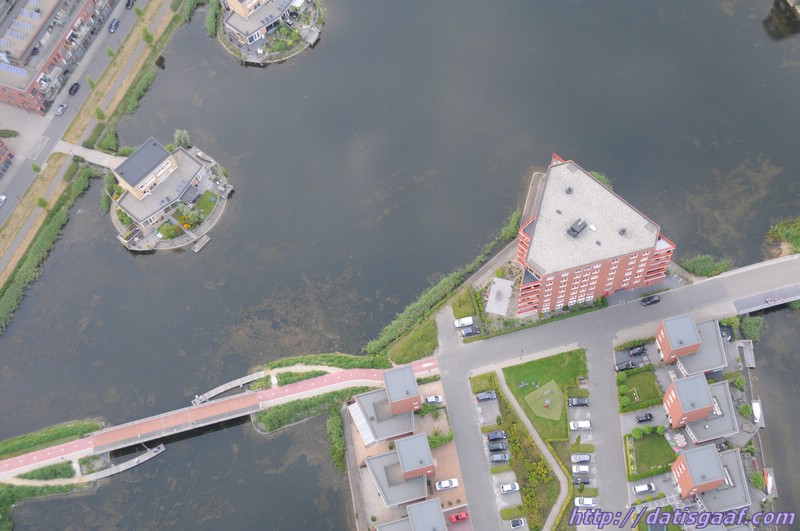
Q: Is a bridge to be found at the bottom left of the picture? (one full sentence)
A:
Yes, a bridge shows up at the bottom left of the picture.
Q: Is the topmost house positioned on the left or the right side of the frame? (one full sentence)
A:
The topmost house appears in the left half of the scene.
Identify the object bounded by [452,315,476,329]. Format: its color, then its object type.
white vehicle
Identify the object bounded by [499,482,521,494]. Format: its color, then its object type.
white vehicle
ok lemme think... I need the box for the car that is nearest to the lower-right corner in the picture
[632,483,657,495]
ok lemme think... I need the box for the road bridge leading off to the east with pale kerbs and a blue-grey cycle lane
[720,251,800,315]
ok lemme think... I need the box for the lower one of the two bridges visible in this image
[92,391,263,456]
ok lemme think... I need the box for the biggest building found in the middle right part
[516,153,676,314]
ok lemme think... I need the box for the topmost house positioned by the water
[224,0,295,46]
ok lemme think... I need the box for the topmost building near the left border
[0,0,122,117]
